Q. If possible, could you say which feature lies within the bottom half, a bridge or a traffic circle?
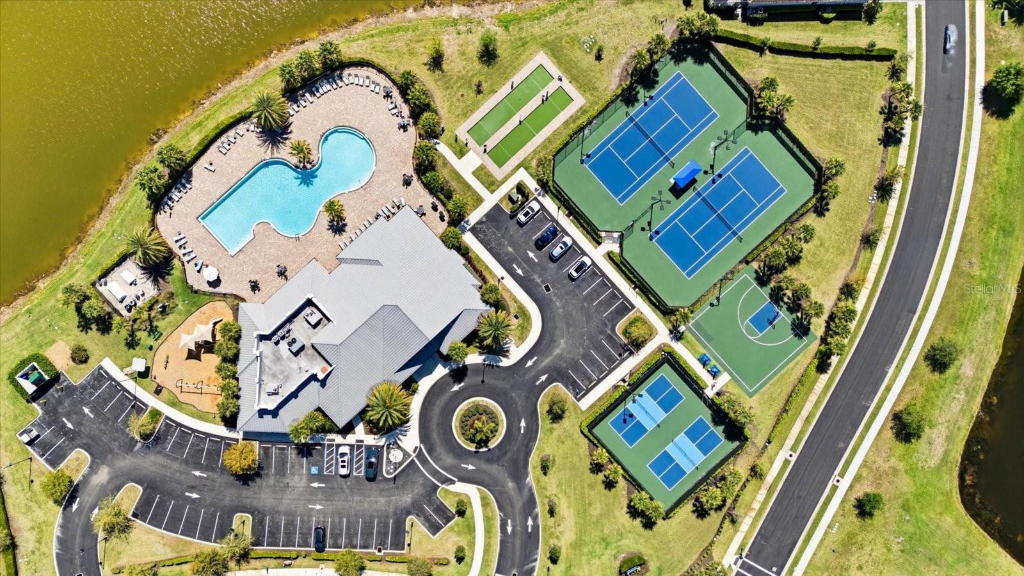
traffic circle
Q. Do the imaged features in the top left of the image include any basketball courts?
No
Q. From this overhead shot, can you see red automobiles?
No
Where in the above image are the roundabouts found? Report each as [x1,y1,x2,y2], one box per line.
[452,397,506,451]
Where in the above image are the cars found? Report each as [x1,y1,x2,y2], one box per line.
[338,446,351,474]
[516,201,541,224]
[944,26,959,52]
[534,226,558,250]
[568,256,593,279]
[549,238,573,262]
[313,525,327,552]
[365,449,378,478]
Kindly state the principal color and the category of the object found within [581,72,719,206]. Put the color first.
blue tennis court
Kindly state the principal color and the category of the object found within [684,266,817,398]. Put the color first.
green basketball court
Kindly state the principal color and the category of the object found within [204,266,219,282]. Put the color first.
white umbrella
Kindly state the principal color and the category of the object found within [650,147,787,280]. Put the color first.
blue tennis court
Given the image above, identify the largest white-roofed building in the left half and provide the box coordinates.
[238,204,493,432]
